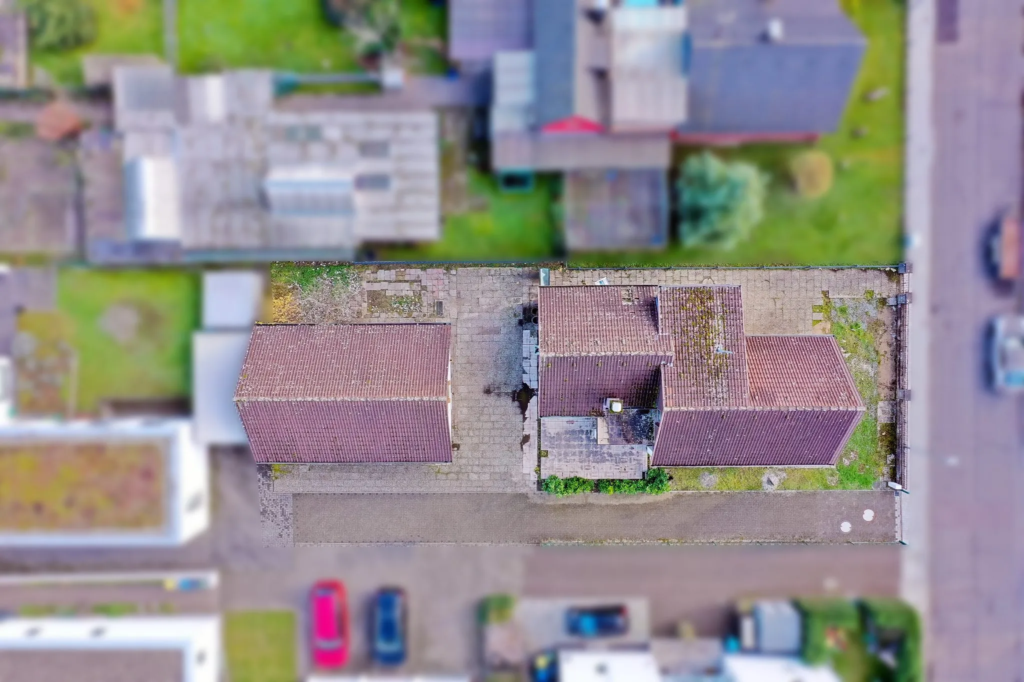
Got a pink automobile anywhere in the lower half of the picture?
Yes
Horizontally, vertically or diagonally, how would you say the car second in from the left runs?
vertically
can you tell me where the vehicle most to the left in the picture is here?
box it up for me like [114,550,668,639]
[302,582,347,673]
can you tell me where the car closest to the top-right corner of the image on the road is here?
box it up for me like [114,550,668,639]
[981,207,1024,293]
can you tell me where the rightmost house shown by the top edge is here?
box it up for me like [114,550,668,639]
[671,3,868,144]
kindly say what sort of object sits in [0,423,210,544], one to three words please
house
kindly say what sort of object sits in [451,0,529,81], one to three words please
building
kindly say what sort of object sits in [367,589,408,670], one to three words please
car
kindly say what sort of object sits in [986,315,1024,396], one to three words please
car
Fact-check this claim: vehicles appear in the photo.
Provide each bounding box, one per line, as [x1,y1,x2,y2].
[566,605,629,645]
[981,207,1024,293]
[986,315,1024,396]
[367,589,408,670]
[302,582,347,673]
